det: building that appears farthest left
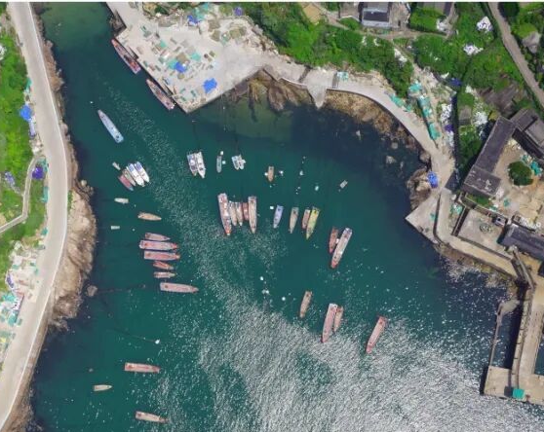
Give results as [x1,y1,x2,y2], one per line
[339,2,359,21]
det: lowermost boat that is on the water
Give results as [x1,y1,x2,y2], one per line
[135,411,168,424]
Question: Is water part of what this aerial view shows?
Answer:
Yes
